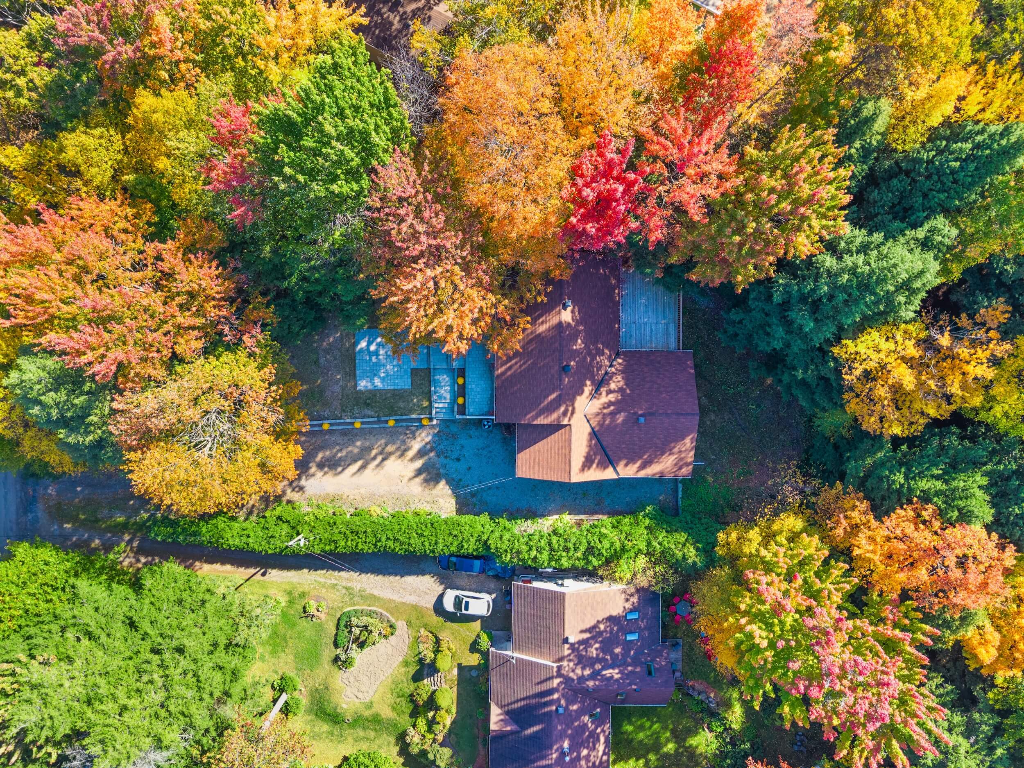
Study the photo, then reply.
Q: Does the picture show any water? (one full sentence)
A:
No, no water is visible.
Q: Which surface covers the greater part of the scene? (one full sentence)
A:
What you mostly see from above here is trees.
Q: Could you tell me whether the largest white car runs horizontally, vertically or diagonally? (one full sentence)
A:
In this picture, the largest white car lies horizontally.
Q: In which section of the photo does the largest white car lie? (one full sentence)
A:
Look in the bottom portion of the view to spot the largest white car.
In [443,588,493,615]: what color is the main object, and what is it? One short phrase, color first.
white car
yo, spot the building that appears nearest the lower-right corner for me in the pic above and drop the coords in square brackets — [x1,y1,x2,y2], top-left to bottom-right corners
[488,578,675,768]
